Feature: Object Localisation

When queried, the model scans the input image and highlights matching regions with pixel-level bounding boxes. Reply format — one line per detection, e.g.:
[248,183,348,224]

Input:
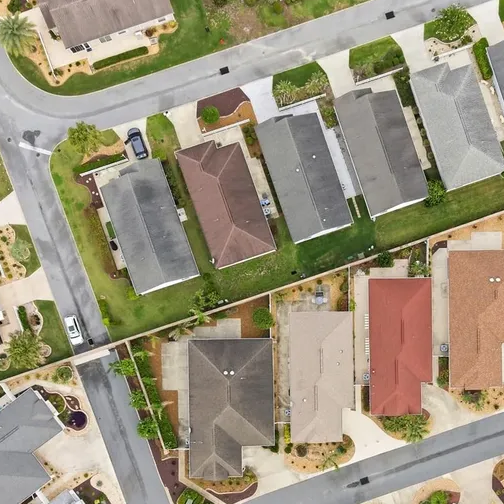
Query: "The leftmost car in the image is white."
[63,314,86,346]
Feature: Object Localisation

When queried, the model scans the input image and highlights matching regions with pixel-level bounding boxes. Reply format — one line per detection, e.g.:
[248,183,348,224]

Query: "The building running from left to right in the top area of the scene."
[40,0,175,55]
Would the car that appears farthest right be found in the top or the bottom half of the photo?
top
